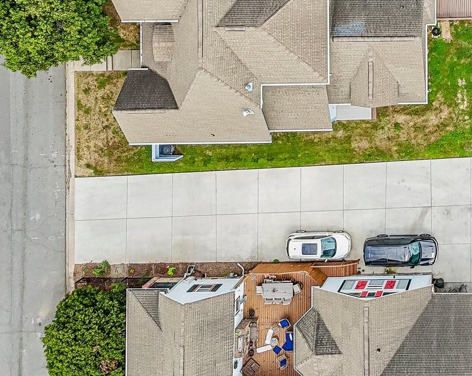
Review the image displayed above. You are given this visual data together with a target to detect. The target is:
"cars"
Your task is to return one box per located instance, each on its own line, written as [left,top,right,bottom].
[284,231,348,264]
[363,236,436,273]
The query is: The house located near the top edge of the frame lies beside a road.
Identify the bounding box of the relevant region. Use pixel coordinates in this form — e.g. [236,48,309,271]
[111,0,437,148]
